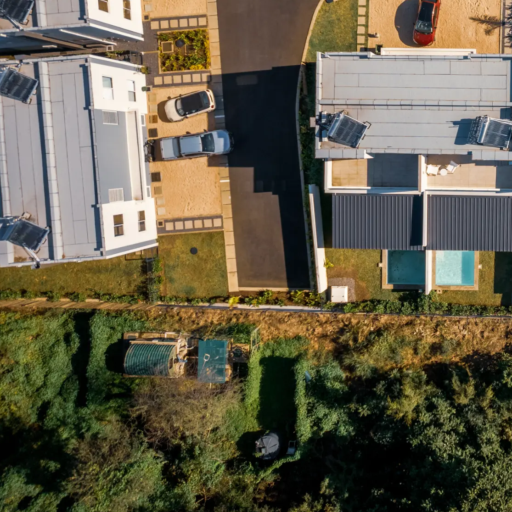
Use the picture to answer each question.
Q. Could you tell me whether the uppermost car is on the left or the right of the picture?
right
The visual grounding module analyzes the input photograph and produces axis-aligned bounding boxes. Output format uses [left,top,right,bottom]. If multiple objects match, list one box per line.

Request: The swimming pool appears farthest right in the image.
[431,251,482,290]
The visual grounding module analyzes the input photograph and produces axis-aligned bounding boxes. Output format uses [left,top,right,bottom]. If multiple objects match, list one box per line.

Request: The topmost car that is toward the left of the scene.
[163,89,219,122]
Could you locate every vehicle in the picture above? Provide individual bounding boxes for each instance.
[145,137,157,161]
[163,89,219,122]
[160,129,233,160]
[410,0,442,48]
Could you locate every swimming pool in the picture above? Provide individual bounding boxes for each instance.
[431,251,482,290]
[378,238,425,288]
